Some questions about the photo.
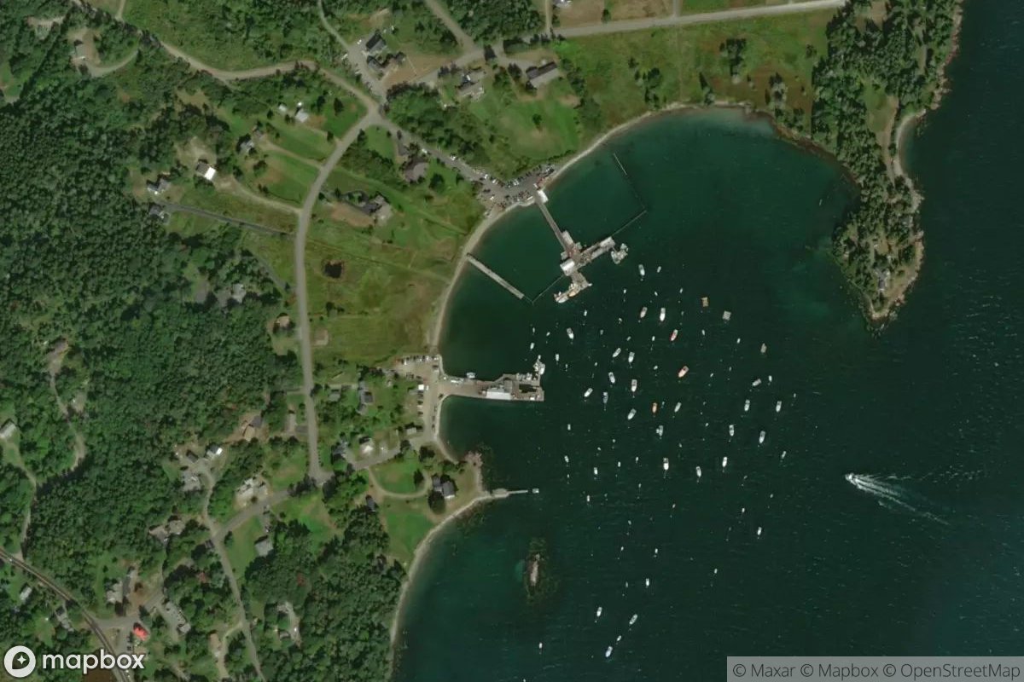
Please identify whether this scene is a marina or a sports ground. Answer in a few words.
marina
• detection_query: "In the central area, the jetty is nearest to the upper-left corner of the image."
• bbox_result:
[466,254,525,299]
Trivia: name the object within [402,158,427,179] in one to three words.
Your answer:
house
